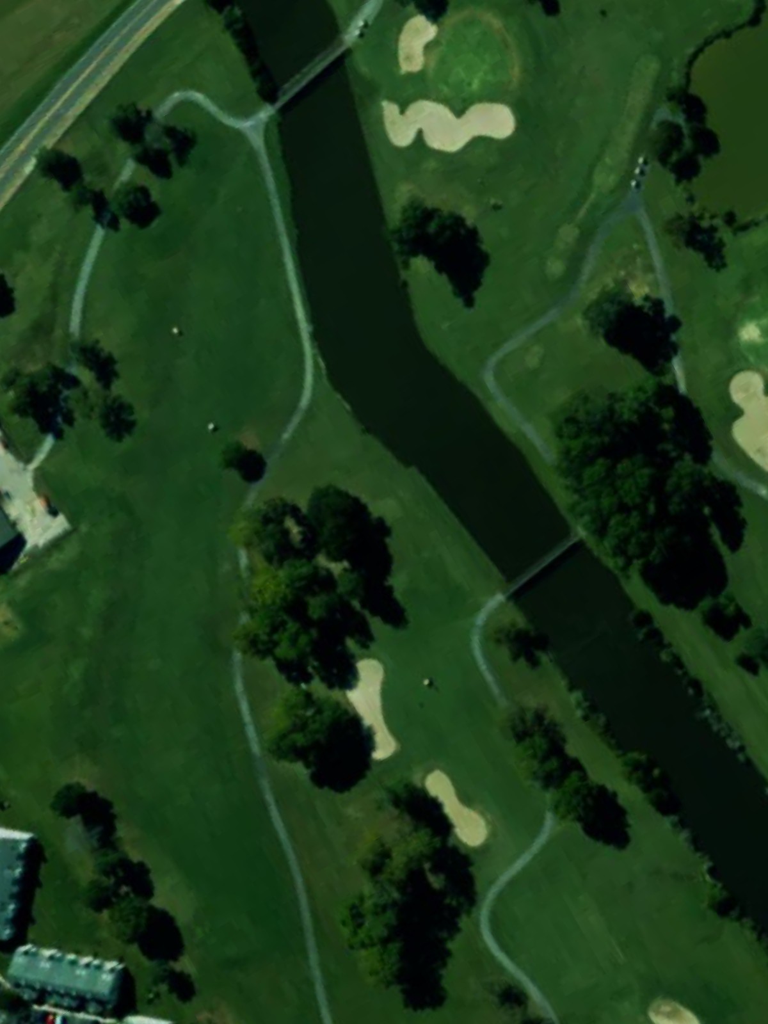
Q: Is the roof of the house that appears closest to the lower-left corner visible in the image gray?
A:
No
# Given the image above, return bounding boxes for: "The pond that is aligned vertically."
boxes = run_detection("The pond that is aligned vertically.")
[690,4,768,228]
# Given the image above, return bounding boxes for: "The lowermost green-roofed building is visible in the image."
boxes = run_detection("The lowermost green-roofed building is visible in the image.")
[10,947,122,1012]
